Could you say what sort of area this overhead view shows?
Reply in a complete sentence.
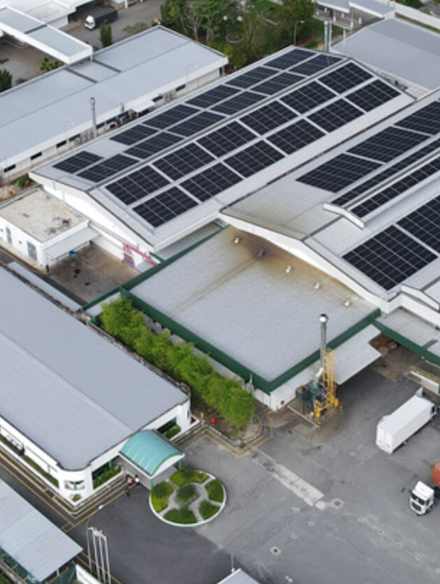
This image shows an industrial area.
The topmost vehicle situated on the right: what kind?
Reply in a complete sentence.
It turns out the topmost vehicle situated on the right is a truck.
